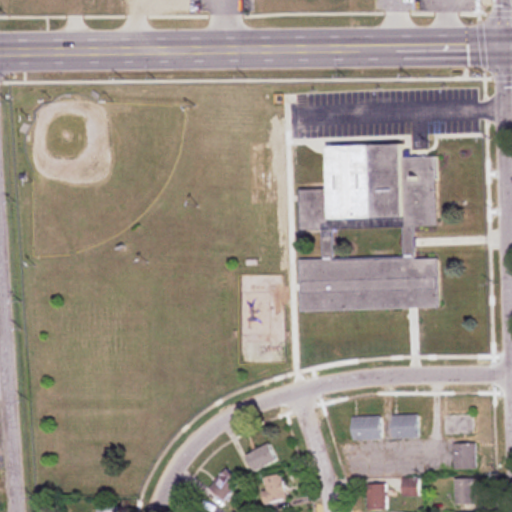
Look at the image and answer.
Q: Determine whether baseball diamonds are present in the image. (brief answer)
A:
Yes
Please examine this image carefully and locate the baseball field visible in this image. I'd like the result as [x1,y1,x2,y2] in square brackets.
[32,96,186,256]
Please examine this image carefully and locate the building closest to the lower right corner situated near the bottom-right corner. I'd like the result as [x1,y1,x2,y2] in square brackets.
[454,482,478,506]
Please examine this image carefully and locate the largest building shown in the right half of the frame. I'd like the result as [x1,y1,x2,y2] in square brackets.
[298,144,442,310]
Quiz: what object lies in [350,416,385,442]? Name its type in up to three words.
house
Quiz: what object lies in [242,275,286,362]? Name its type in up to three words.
sports court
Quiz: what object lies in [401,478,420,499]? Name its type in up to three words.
building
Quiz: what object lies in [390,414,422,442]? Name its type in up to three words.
house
